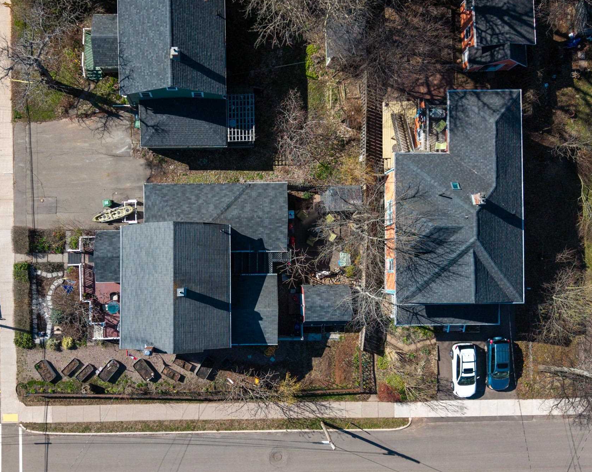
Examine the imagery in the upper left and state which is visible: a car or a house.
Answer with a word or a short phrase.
house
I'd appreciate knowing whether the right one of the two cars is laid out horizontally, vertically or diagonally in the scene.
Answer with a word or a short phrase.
vertically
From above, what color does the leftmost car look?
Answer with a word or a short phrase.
white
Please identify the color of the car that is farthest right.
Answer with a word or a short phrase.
blue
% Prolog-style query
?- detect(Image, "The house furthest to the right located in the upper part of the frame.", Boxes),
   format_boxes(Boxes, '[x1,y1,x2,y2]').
[457,0,537,75]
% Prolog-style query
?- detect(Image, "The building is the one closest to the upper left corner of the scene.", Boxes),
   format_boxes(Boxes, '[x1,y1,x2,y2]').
[81,0,227,151]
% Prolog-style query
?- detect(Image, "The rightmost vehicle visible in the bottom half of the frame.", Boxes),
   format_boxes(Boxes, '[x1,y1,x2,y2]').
[486,335,515,392]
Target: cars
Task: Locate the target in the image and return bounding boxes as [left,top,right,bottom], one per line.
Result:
[486,335,515,392]
[452,341,482,399]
